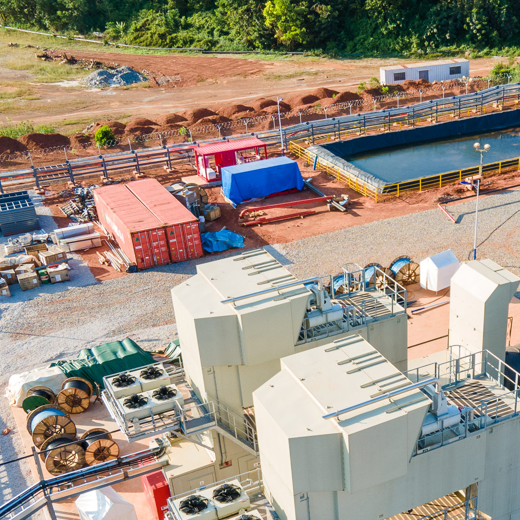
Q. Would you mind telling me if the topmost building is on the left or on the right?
right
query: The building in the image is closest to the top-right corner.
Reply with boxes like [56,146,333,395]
[380,55,476,88]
